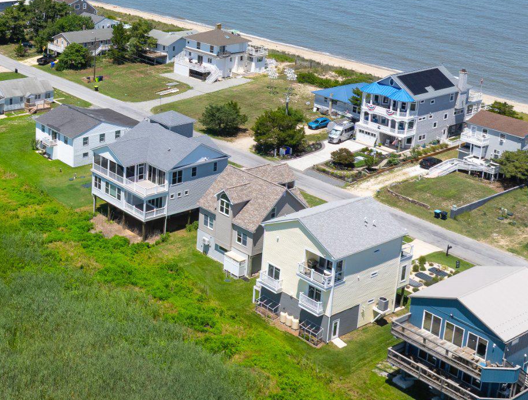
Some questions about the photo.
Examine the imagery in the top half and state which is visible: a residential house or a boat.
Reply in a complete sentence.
You can see a residential house in the top half.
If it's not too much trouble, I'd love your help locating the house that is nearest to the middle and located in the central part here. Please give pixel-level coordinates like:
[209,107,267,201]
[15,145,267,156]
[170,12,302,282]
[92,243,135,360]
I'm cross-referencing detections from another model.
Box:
[195,165,321,276]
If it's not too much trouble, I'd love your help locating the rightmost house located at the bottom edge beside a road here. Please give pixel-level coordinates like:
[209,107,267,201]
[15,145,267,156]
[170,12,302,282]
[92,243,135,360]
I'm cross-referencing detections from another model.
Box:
[386,267,528,400]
